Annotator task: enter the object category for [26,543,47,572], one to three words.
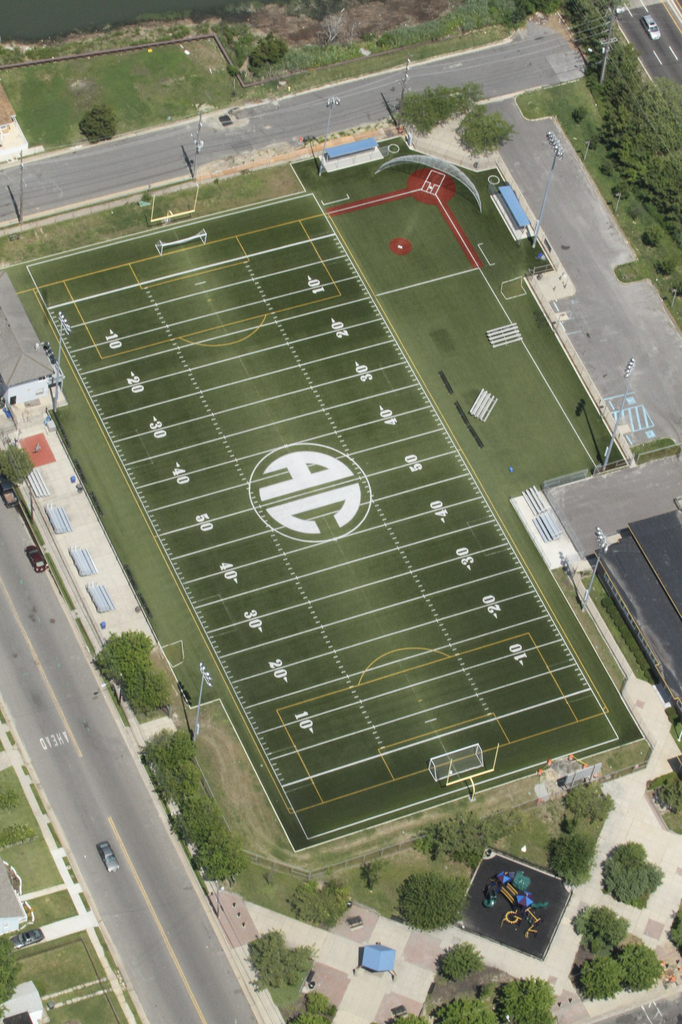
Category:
car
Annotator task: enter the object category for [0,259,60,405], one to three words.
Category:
building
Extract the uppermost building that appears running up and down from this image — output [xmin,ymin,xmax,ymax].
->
[0,84,29,154]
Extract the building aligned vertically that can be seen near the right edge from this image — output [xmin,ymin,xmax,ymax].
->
[593,509,682,720]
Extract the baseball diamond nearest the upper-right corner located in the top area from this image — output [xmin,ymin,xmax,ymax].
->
[290,133,629,496]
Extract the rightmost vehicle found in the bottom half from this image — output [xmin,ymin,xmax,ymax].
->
[96,838,120,872]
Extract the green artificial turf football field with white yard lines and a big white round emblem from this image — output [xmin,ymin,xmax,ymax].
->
[5,163,639,852]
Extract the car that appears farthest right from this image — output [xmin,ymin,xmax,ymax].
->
[641,12,662,38]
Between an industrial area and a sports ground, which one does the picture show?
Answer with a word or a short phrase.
sports ground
